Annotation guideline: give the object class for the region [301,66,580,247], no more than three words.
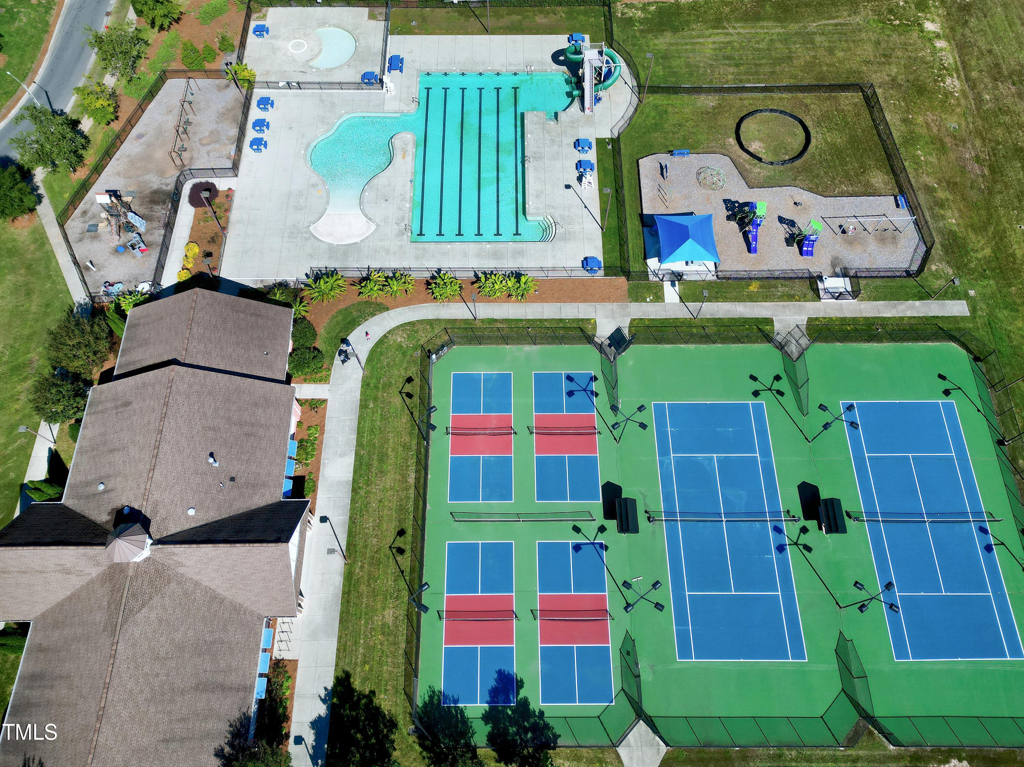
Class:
swimming pool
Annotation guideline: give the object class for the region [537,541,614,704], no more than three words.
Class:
sports court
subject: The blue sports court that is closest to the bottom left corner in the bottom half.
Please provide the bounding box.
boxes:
[442,542,515,705]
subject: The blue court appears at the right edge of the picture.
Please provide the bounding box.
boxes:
[840,400,1024,661]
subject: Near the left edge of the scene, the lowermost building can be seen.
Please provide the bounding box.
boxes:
[0,289,326,767]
